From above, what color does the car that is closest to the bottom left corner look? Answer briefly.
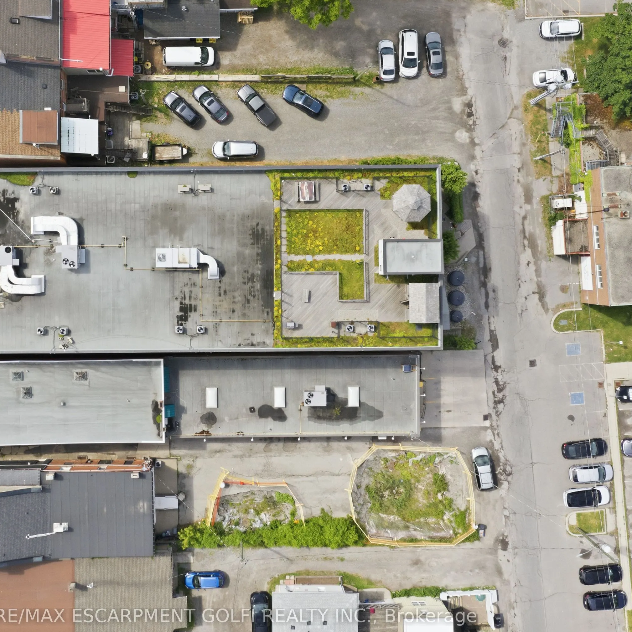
blue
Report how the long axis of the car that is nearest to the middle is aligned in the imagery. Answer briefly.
horizontally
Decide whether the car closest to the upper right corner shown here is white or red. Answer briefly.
white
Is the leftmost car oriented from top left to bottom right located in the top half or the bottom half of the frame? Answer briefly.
top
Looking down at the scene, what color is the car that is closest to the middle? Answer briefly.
white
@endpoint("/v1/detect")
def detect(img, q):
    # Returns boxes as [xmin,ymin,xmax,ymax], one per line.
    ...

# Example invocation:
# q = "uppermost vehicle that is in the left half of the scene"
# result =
[161,45,215,68]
